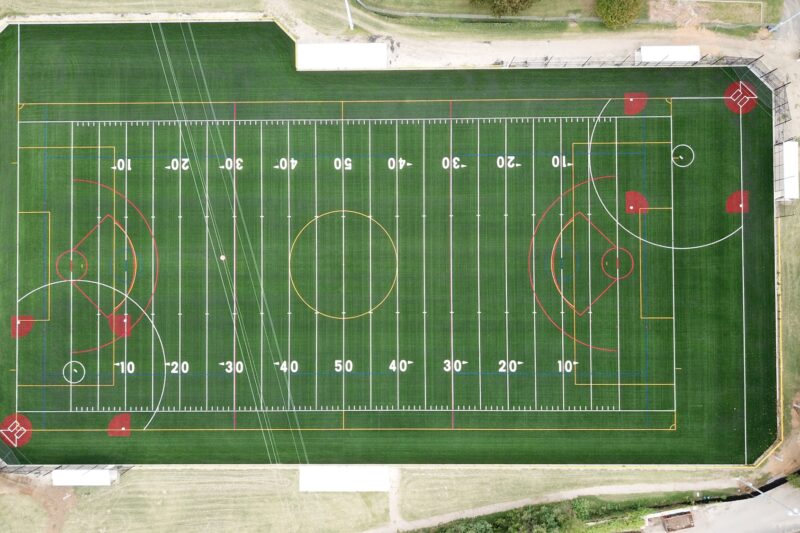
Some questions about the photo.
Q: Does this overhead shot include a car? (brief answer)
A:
No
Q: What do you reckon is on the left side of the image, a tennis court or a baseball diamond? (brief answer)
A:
baseball diamond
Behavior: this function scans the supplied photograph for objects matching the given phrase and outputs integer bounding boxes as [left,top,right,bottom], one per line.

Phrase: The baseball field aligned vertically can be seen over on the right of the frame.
[589,80,759,463]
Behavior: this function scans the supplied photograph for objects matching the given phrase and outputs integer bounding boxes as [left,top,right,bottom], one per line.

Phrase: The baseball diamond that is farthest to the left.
[0,25,166,448]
